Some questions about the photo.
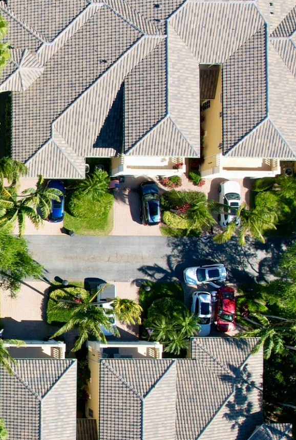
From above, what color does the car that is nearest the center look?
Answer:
black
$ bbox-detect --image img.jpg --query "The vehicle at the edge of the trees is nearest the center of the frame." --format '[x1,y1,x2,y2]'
[138,182,162,226]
